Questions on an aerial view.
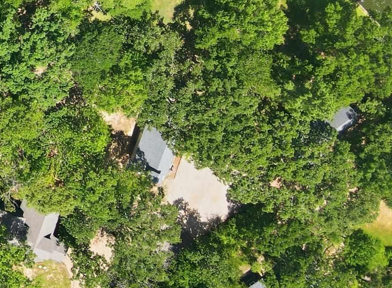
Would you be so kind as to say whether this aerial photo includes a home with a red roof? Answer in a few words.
No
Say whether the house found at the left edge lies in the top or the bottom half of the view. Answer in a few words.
bottom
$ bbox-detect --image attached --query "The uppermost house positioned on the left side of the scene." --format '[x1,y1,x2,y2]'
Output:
[128,123,176,182]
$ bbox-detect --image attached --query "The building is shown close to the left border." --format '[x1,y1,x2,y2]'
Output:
[0,194,66,262]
